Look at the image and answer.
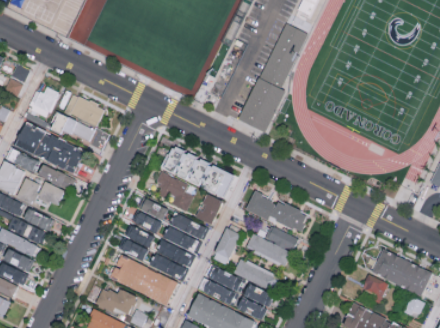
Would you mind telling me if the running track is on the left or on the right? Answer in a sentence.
You can find the running track on the right side of the picture.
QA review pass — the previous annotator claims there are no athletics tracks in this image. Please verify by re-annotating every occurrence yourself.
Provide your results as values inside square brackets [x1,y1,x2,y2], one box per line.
[290,0,440,184]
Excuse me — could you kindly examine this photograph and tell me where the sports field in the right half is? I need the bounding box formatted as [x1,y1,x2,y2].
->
[306,0,440,154]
